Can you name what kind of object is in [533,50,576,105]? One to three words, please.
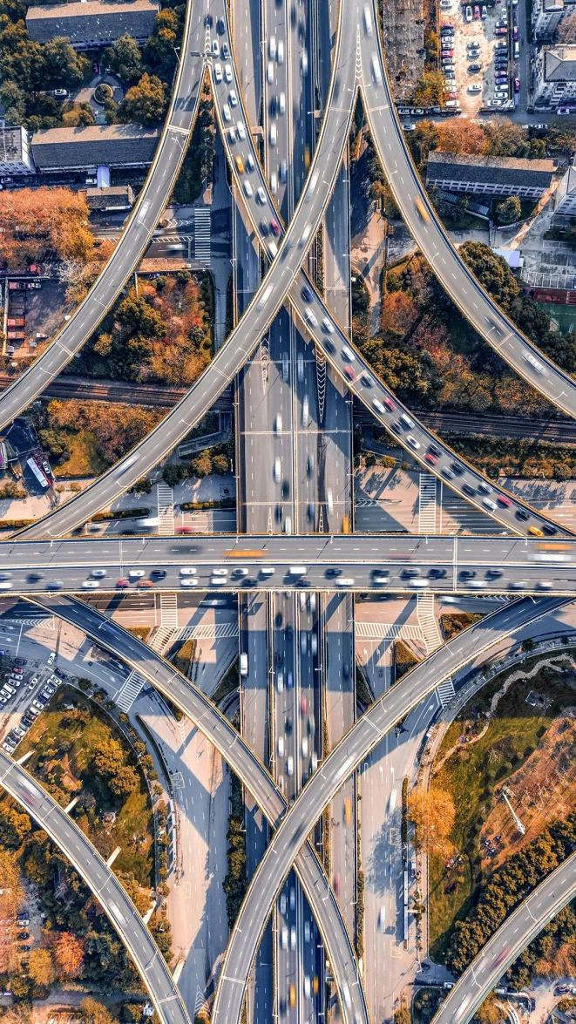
building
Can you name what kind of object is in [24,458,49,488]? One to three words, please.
bus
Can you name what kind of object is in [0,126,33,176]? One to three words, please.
building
